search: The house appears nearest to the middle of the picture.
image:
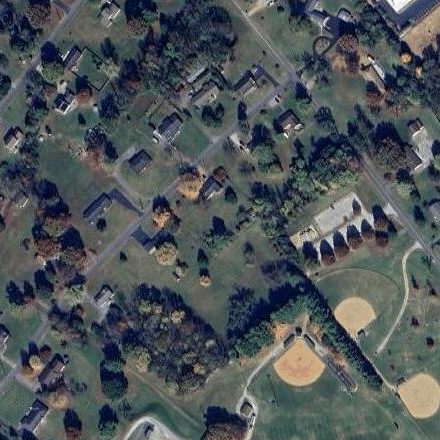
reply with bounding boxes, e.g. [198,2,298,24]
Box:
[199,178,223,202]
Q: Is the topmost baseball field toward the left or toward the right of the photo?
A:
right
